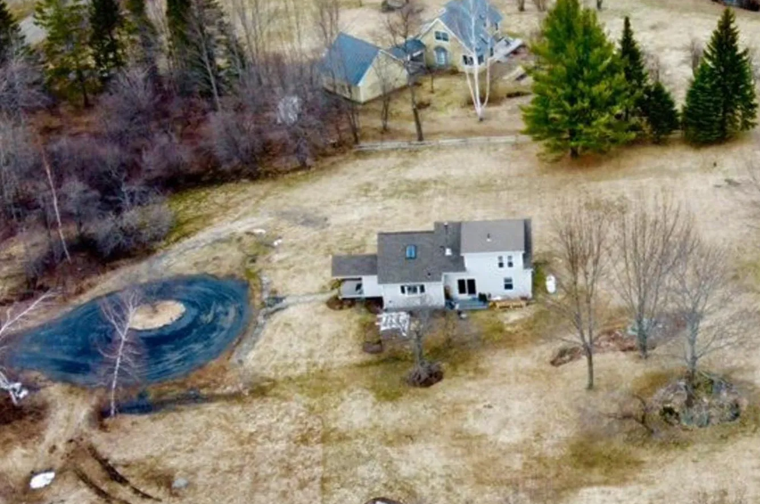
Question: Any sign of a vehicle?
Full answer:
No, there isn't any vehicle down there.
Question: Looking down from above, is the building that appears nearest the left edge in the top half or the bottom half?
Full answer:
The top half of the photo is where the building that appears nearest the left edge is.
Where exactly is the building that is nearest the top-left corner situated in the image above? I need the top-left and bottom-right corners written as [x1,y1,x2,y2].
[315,36,409,103]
